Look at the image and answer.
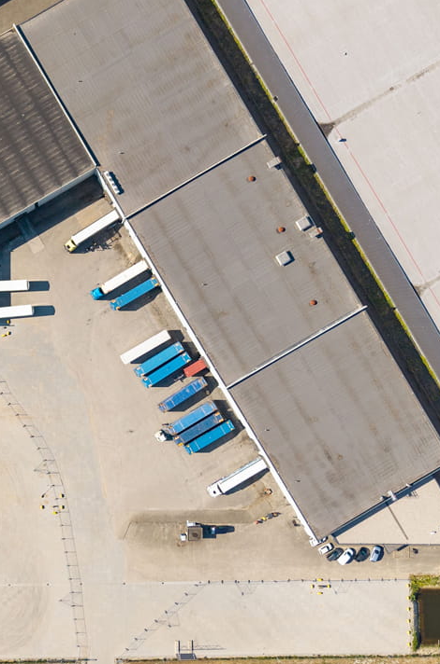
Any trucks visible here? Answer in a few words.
Yes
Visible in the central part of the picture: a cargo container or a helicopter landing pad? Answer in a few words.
cargo container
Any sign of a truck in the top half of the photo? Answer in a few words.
Yes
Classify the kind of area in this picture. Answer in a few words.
industrial area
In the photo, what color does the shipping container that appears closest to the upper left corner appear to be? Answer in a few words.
blue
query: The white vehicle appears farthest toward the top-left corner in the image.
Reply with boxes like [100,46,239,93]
[61,209,119,253]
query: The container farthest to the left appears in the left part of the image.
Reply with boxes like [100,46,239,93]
[111,277,158,310]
